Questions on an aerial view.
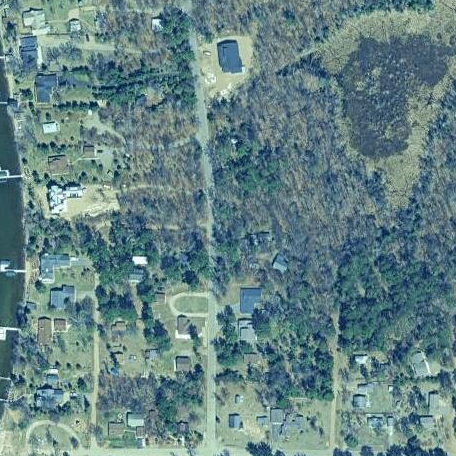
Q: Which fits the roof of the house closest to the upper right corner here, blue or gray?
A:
blue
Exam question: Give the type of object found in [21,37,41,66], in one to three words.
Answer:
house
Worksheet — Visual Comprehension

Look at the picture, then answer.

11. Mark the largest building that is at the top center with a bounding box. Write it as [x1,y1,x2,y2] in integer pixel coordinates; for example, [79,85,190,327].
[217,39,245,73]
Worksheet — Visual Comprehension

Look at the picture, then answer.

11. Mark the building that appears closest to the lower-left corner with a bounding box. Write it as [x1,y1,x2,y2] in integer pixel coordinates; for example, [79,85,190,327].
[37,389,63,408]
